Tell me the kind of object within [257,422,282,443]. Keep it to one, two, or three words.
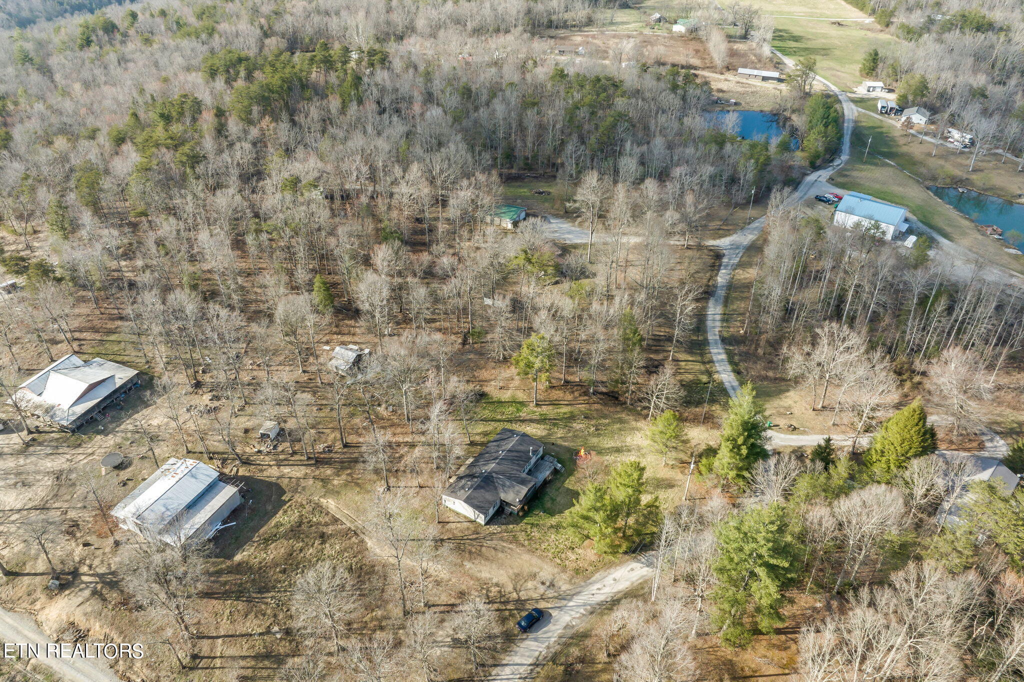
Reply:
shed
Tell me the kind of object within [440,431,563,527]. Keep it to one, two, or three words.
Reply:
house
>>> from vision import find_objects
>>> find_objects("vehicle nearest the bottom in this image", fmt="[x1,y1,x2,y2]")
[515,607,546,632]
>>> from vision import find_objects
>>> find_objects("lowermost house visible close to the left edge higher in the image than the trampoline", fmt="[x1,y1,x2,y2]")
[0,350,141,437]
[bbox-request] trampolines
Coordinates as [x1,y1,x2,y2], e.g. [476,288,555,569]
[98,455,123,473]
